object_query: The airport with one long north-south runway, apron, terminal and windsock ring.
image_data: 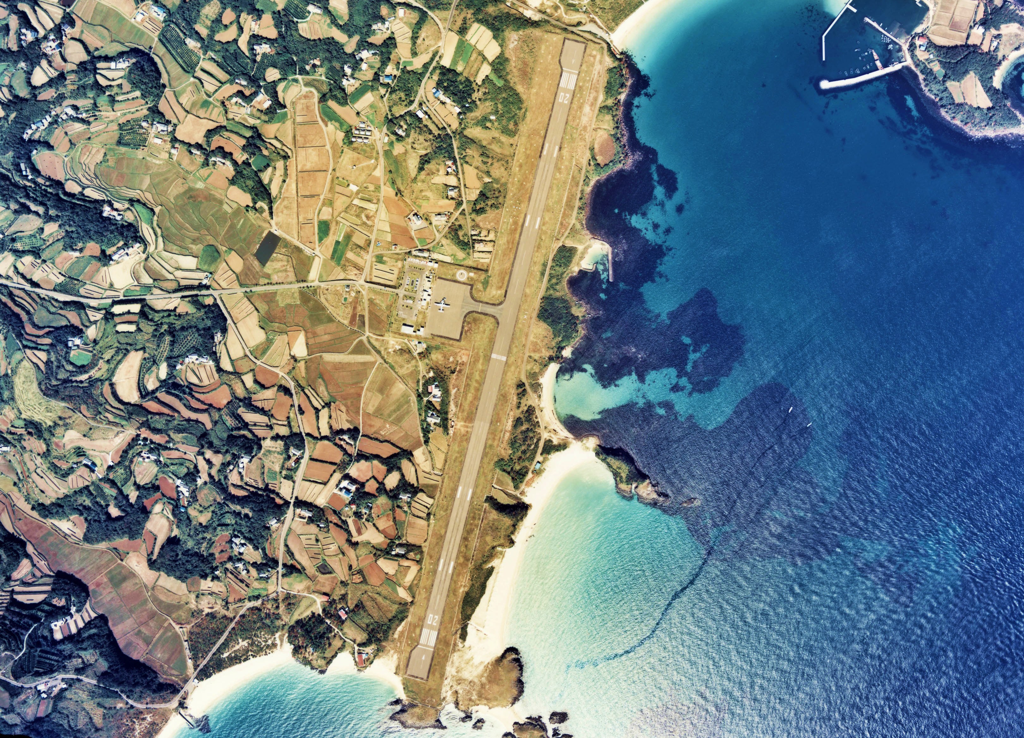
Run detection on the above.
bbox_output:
[395,30,599,707]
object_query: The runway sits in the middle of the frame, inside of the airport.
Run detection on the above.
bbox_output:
[418,51,579,669]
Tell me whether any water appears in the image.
Yes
